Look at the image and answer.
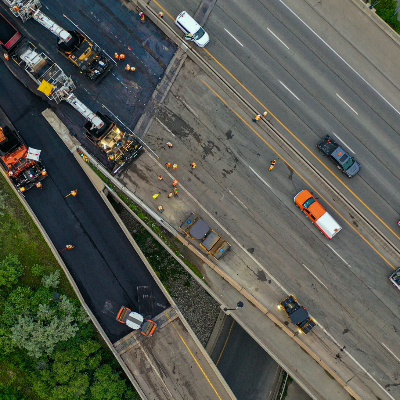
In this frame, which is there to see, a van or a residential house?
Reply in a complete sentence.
I can see a van in this picture.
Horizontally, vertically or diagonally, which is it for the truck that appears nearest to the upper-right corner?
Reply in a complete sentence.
The truck that appears nearest to the upper-right corner is laid out diagonally.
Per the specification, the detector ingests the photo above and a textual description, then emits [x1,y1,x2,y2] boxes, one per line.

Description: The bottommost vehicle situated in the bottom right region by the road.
[278,293,318,336]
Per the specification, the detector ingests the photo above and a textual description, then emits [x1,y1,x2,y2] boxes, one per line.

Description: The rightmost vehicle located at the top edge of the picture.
[175,10,211,49]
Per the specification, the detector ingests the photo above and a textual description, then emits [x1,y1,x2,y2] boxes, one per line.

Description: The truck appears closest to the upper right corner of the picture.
[315,134,360,178]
